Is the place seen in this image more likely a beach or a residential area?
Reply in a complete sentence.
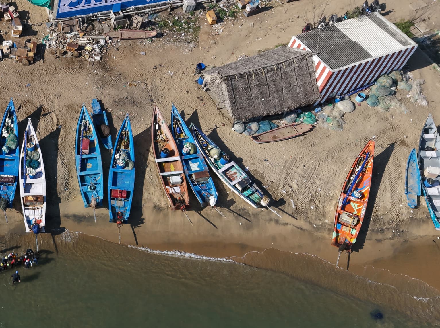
The area seen from above is a beach.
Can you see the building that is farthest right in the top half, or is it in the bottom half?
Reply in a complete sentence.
Seen from above, the building that is farthest right lies in the top half of the view.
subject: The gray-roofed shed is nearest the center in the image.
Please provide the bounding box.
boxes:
[200,44,329,122]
